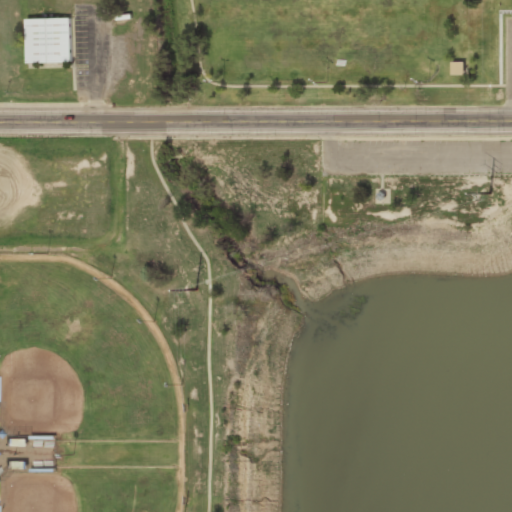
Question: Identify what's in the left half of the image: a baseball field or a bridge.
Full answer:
There is a baseball field in the left half of the image.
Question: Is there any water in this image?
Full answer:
Yes, water shows up in the scene.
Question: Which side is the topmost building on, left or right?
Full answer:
The topmost building sits on the left side.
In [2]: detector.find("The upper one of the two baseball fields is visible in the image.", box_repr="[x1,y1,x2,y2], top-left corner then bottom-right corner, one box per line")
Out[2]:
[0,252,186,454]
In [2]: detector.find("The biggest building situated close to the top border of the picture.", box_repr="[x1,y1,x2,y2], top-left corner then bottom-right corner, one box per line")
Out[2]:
[24,18,73,64]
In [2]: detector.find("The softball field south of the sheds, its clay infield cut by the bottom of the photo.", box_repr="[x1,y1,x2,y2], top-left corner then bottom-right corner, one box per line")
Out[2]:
[0,454,186,512]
